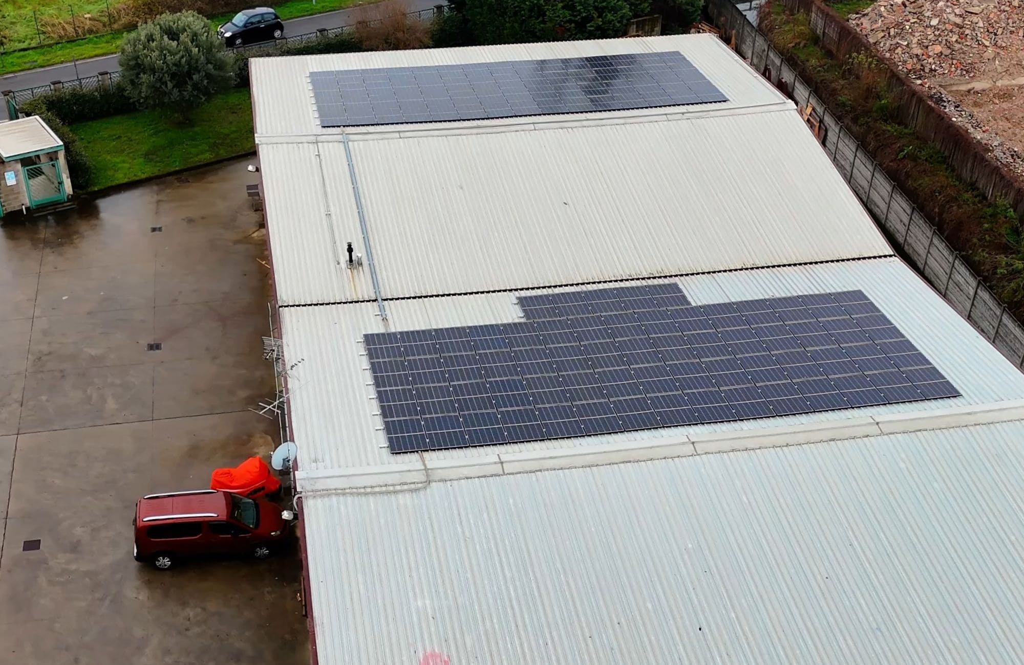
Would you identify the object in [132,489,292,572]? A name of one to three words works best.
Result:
van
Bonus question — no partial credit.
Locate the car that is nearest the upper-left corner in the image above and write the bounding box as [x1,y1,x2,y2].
[217,6,287,44]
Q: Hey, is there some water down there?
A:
No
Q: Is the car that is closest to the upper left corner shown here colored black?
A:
Yes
